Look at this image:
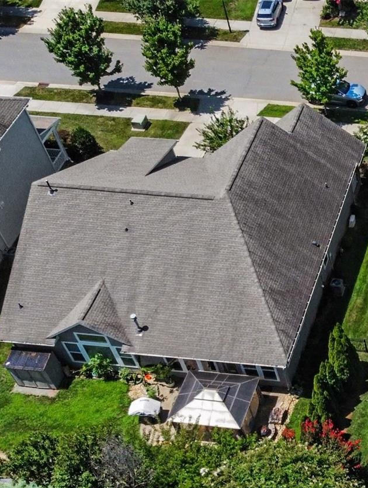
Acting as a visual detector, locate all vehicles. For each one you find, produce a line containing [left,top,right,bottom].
[334,82,368,107]
[255,0,286,25]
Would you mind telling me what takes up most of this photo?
buildings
